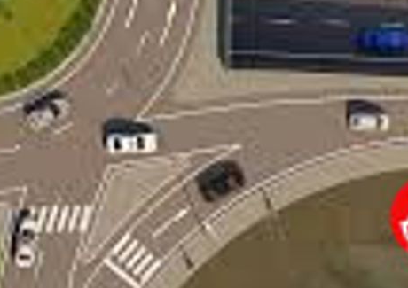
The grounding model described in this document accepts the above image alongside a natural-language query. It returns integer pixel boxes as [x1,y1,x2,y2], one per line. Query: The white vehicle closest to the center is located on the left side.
[104,131,153,152]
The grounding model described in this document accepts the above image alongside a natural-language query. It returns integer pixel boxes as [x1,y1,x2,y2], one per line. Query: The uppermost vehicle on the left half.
[24,96,68,130]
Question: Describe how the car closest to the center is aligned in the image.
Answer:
at an angle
